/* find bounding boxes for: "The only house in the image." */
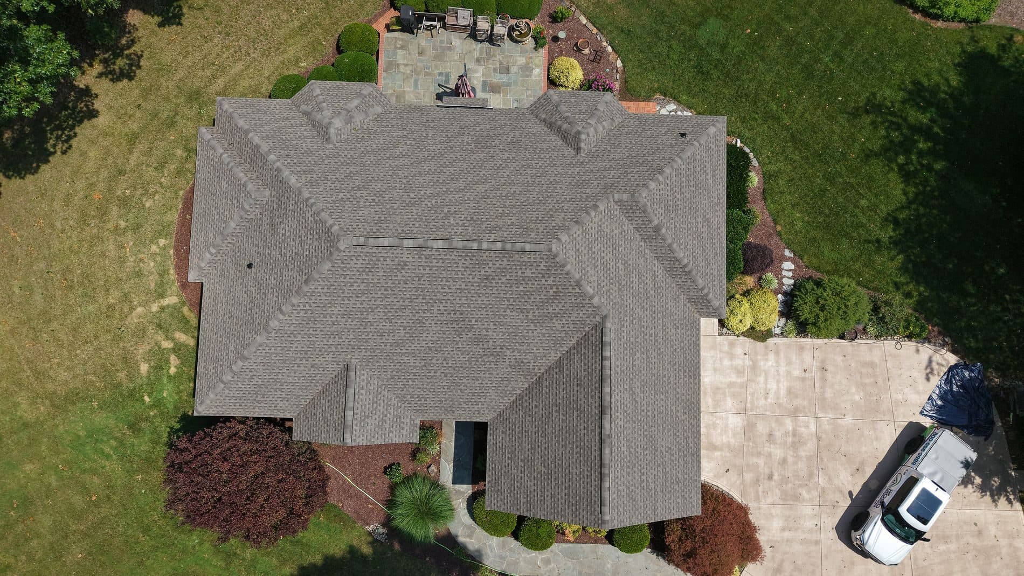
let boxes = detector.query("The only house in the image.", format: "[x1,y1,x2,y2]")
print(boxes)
[187,80,728,530]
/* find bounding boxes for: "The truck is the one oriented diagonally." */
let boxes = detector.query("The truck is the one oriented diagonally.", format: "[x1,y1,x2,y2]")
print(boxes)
[853,418,979,569]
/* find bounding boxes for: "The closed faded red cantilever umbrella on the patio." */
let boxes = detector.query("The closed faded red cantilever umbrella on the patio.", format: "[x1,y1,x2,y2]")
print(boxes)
[459,64,485,98]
